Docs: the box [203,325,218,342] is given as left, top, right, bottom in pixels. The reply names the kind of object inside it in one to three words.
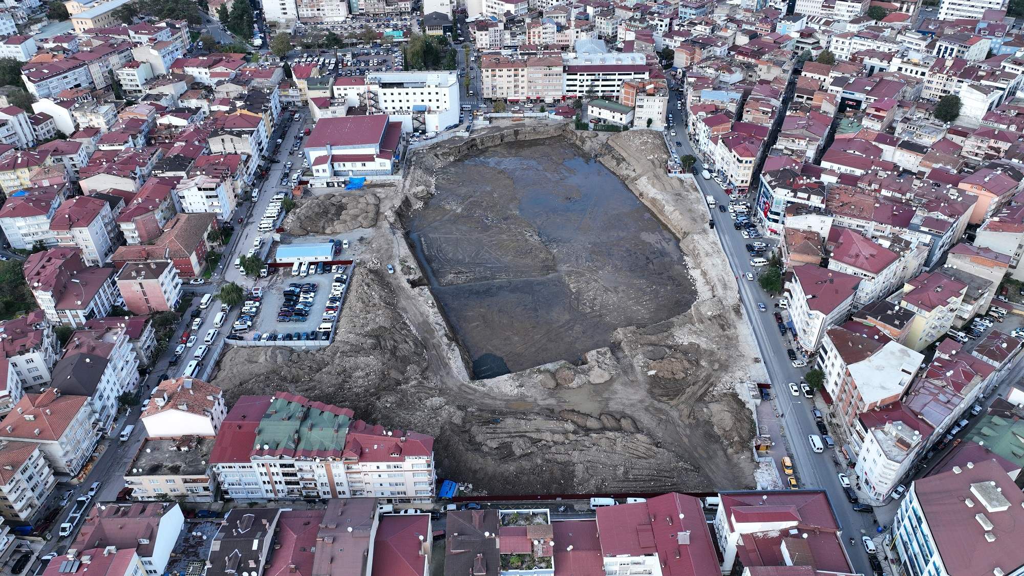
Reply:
vehicle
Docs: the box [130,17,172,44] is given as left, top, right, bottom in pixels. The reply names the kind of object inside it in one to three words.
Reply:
house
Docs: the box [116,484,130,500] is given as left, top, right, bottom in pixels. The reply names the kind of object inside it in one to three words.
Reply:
car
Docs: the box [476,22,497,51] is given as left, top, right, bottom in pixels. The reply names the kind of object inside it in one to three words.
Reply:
building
